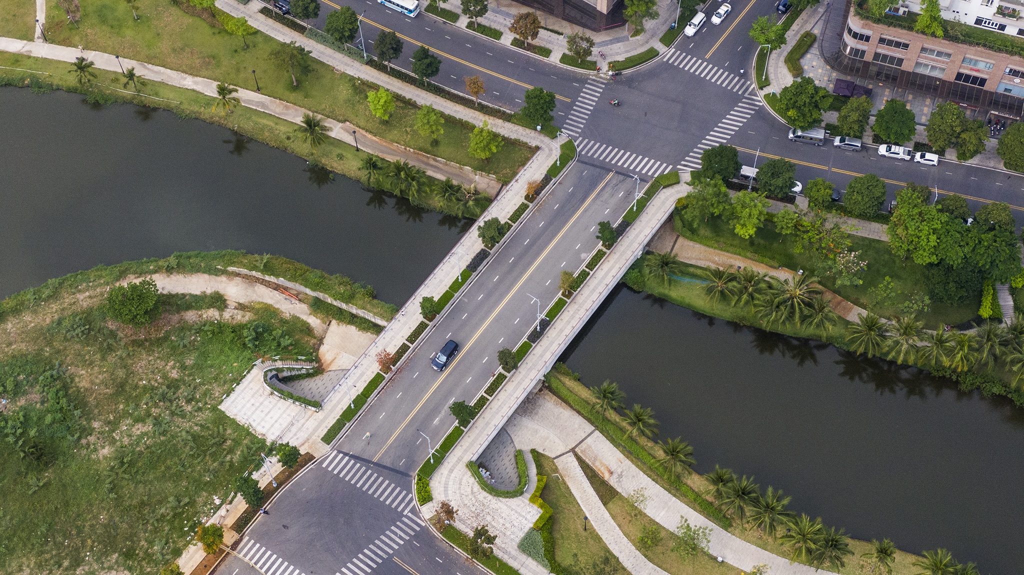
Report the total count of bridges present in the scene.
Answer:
one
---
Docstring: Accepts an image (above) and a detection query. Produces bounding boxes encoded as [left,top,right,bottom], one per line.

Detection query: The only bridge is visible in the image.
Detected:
[320,145,677,478]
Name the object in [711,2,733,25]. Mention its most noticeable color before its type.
white car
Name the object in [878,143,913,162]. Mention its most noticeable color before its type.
white vehicle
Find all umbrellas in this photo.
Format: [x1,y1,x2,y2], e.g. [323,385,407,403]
[853,84,873,102]
[832,78,855,98]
